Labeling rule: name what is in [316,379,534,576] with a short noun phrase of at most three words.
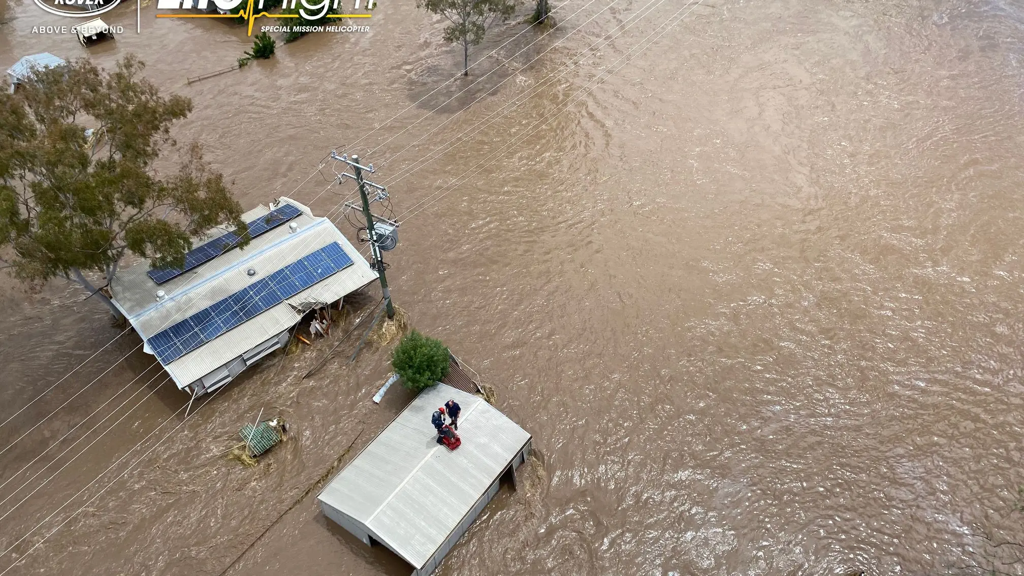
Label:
shed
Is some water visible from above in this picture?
Yes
